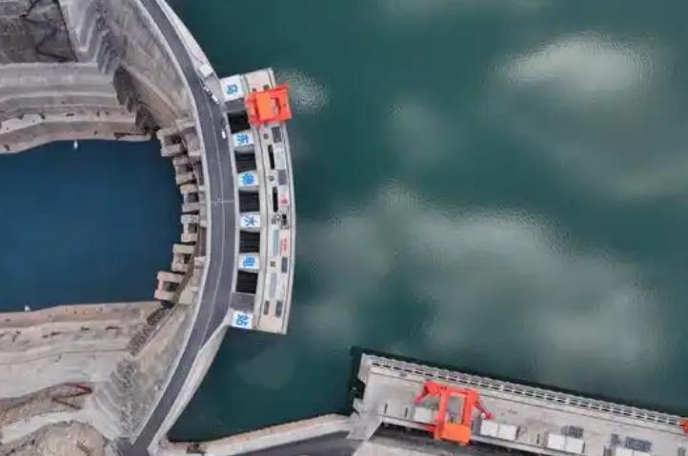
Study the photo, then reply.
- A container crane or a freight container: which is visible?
container crane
